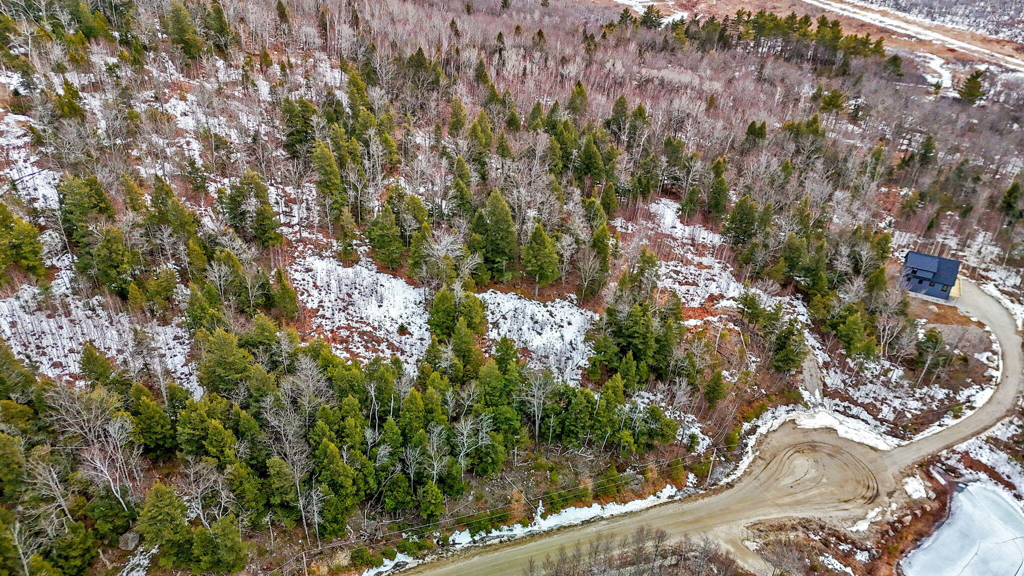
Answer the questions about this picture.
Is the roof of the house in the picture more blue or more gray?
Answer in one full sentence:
In this view, the roof of the house is blue.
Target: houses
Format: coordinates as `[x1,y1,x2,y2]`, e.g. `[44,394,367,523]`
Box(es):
[903,250,964,302]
